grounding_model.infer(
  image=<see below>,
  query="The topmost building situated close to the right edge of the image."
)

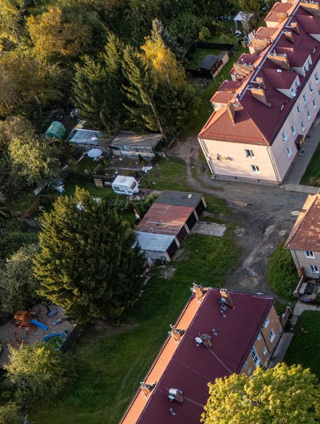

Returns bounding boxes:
[195,0,320,183]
